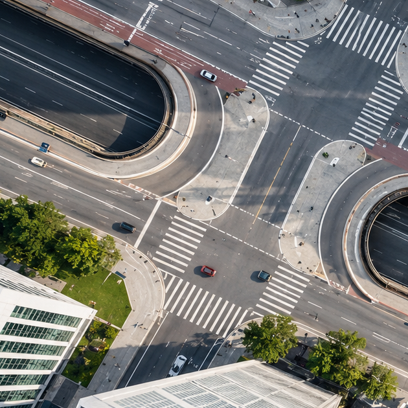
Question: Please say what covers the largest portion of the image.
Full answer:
The bulk of the photo consists of paved ground.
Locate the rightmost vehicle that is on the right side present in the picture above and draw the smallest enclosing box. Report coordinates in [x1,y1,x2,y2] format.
[254,270,274,283]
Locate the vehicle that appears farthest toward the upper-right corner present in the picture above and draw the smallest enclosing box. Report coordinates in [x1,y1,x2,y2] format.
[199,69,218,83]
